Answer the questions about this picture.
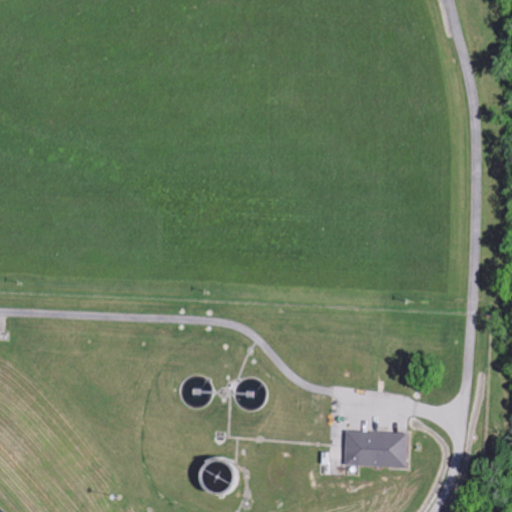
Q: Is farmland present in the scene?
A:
Yes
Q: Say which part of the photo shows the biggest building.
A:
bottom right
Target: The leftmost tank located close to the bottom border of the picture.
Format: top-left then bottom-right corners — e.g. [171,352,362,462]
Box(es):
[199,458,239,500]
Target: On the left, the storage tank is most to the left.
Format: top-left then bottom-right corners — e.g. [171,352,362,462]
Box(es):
[180,374,214,410]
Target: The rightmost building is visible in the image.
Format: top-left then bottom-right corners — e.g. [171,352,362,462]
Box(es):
[346,430,408,471]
